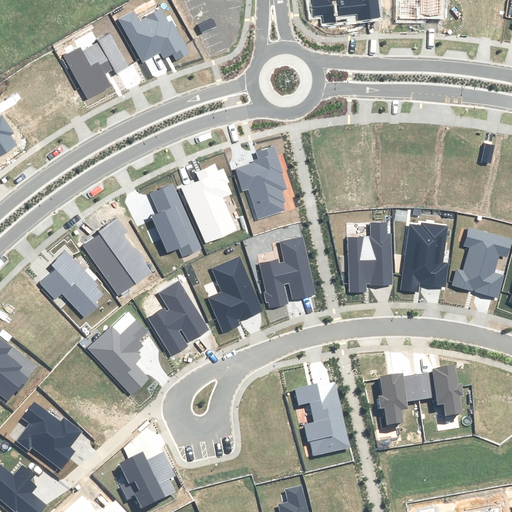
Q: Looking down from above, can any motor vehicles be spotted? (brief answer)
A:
Yes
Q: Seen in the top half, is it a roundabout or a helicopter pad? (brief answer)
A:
roundabout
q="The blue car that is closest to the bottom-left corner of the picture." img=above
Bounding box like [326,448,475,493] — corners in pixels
[204,350,218,364]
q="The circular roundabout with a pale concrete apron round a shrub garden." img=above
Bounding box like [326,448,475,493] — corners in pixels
[252,47,319,114]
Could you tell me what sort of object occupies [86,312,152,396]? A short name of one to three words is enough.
house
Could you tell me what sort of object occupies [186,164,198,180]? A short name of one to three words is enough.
vehicle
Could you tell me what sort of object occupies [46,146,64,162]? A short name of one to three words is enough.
vehicle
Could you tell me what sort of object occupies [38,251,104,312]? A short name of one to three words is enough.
house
